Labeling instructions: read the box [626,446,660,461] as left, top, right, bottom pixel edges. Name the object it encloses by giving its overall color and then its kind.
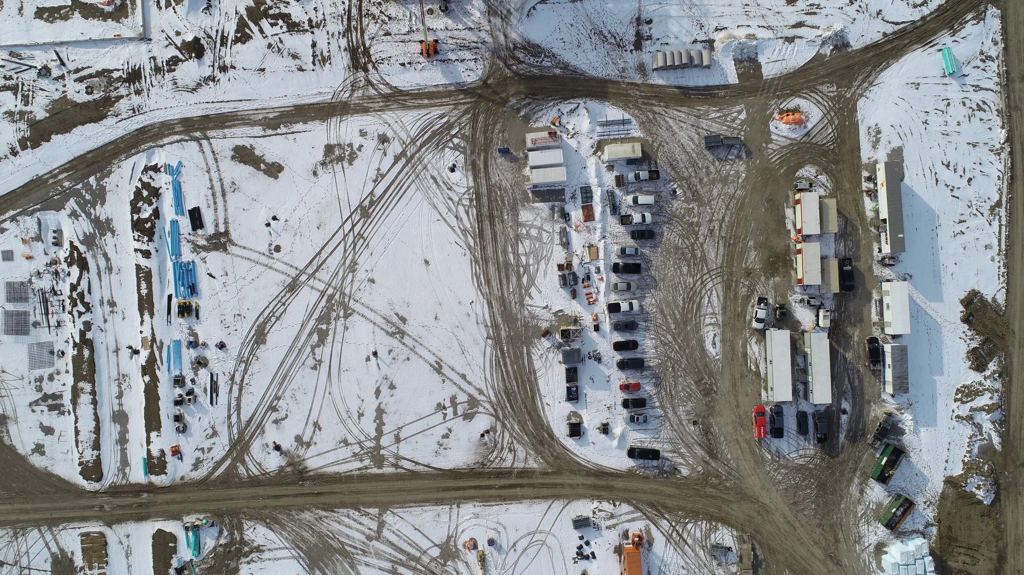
black vehicle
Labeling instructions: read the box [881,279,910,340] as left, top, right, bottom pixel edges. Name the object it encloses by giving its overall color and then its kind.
white trailer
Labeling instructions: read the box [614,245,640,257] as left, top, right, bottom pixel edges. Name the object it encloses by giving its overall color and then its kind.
gray vehicle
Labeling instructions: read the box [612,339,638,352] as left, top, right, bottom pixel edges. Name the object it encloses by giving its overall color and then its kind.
black vehicle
